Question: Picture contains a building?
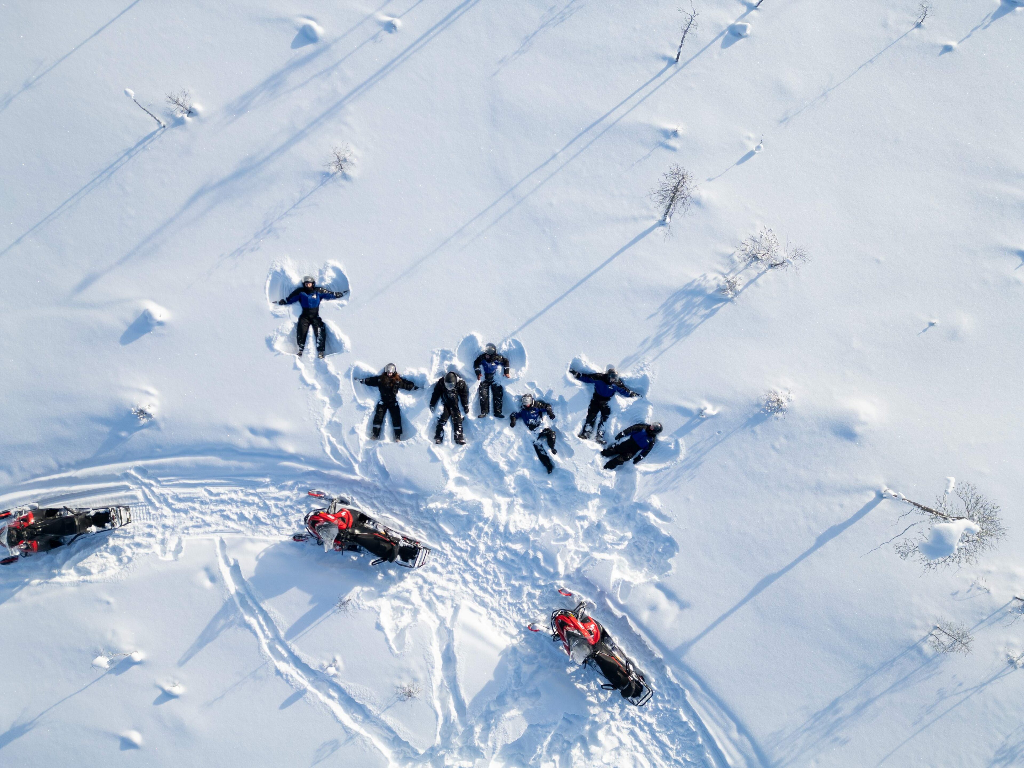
No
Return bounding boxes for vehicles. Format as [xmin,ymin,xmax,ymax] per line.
[292,493,430,569]
[524,594,654,706]
[0,496,127,556]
